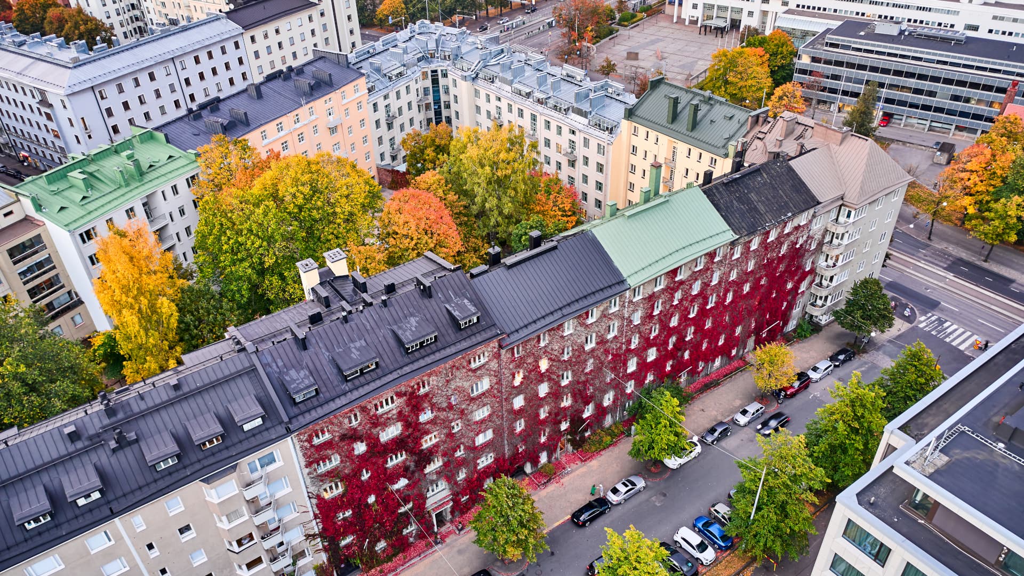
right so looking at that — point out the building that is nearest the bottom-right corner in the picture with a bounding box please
[812,318,1024,576]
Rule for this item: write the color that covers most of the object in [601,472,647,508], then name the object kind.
gray car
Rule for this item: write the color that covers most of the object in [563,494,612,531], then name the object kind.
black car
